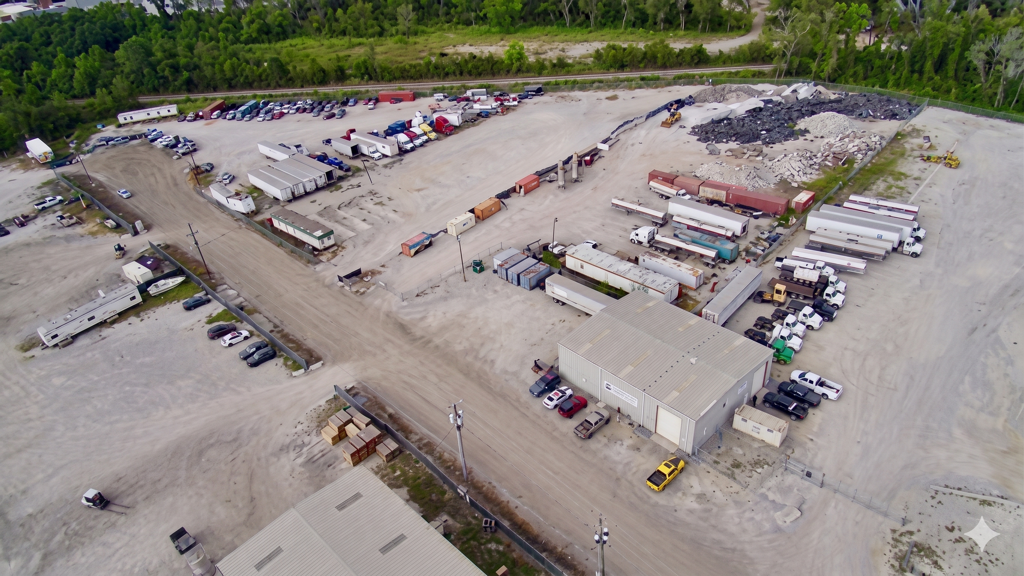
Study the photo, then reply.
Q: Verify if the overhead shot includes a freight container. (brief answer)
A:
Yes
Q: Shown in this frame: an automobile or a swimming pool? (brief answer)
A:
automobile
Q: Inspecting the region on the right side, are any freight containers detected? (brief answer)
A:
Yes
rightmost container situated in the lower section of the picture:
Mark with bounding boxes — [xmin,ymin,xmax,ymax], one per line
[731,402,788,447]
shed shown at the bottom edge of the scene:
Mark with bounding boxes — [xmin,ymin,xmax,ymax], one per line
[215,465,492,576]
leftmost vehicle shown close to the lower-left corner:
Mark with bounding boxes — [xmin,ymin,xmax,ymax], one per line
[76,483,123,514]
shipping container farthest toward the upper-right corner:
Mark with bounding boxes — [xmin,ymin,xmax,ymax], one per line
[788,190,815,215]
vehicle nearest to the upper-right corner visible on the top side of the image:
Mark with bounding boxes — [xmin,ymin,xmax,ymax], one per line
[926,152,966,168]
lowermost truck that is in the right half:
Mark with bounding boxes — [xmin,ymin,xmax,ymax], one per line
[644,453,687,490]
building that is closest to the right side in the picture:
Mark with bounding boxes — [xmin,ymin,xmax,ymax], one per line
[555,290,776,455]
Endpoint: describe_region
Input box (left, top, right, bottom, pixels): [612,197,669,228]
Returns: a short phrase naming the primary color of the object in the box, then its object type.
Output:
white trailer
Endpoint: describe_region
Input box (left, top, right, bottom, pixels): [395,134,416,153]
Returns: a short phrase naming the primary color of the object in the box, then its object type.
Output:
white vehicle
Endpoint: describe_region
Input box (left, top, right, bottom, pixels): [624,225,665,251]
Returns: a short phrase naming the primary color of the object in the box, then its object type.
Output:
white truck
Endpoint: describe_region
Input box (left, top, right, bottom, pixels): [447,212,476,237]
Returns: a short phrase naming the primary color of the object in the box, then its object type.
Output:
white shipping container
